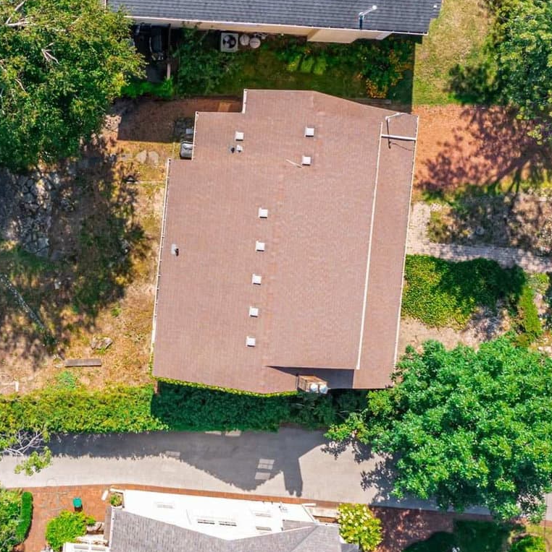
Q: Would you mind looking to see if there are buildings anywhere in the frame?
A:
Yes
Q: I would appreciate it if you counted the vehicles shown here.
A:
zero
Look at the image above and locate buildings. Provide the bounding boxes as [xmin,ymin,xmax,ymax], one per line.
[60,495,359,552]
[150,90,421,394]
[103,0,442,52]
